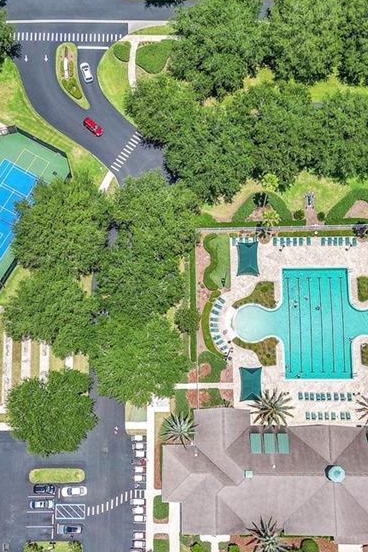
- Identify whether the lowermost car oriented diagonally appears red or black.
red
